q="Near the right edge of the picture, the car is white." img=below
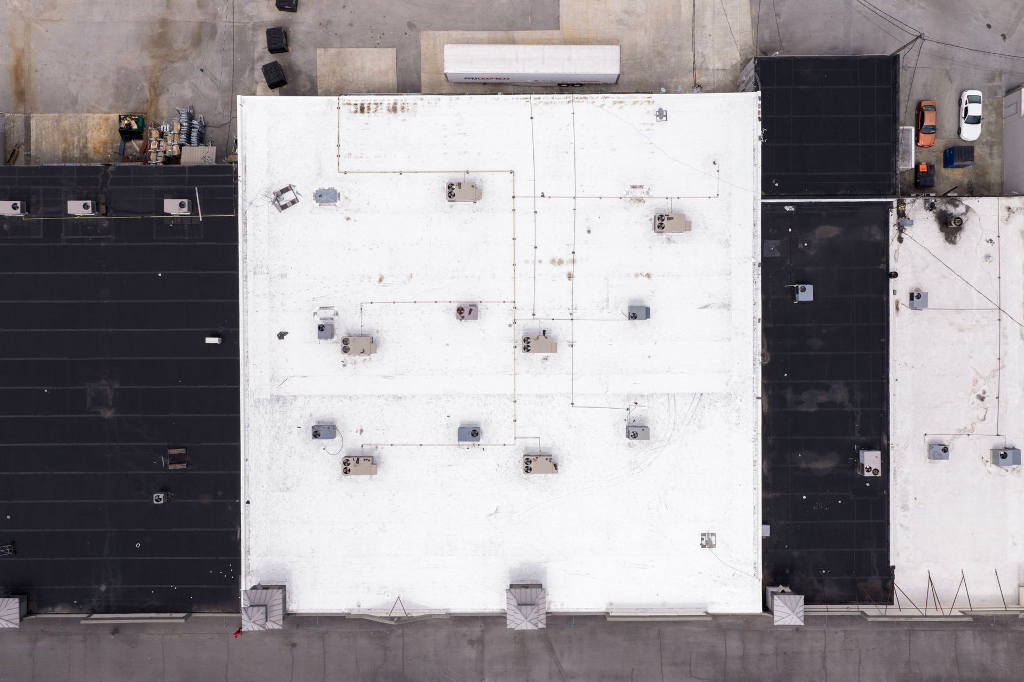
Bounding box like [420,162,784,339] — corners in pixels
[955,91,984,142]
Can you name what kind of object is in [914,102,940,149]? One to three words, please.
car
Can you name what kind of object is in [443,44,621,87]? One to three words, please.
trailer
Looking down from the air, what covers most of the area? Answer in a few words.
buildings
